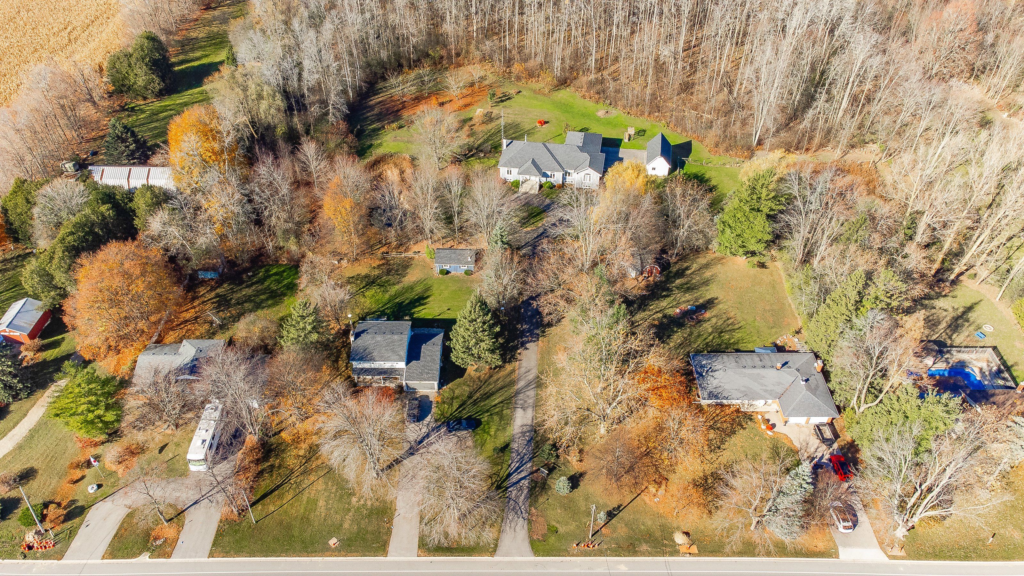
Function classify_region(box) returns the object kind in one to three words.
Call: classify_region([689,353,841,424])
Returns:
house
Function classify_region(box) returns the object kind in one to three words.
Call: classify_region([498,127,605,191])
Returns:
house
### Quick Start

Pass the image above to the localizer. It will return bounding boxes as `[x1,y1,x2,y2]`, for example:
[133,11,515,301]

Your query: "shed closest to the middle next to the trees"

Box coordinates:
[435,248,476,272]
